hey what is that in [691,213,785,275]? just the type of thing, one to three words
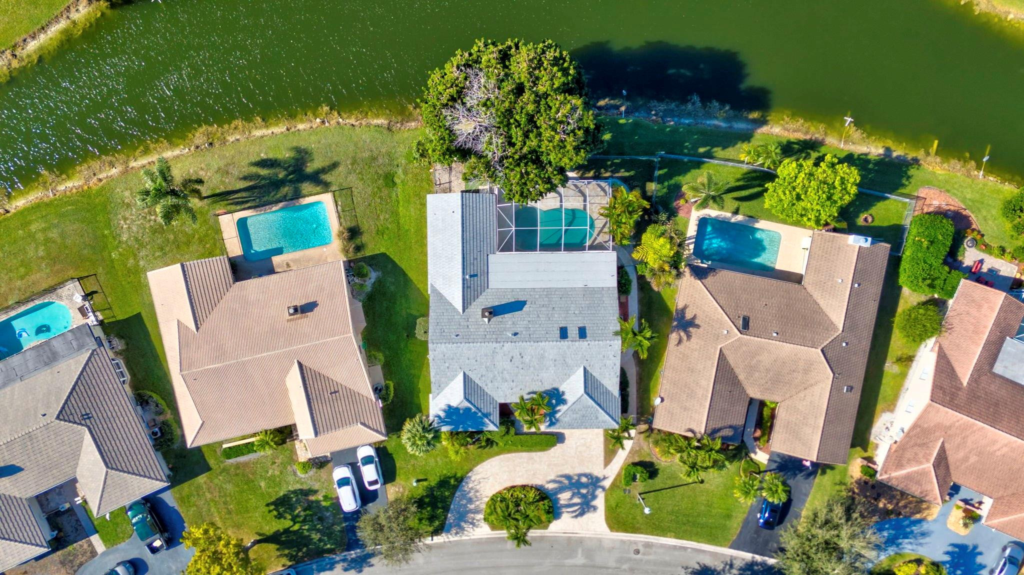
swimming pool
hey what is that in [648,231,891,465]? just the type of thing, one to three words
house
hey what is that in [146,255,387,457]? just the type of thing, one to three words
house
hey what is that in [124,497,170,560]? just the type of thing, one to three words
truck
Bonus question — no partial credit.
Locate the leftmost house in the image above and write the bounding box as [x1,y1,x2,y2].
[0,322,176,572]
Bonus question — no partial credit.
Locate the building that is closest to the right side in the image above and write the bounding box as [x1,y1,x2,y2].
[870,279,1024,541]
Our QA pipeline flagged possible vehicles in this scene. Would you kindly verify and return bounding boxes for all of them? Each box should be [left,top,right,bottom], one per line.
[124,497,170,560]
[354,443,384,494]
[756,479,789,532]
[331,462,362,515]
[99,561,140,575]
[989,539,1024,575]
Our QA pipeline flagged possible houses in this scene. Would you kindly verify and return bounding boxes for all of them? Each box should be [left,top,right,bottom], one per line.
[870,279,1024,541]
[0,322,176,572]
[426,192,622,432]
[648,231,891,465]
[146,255,387,457]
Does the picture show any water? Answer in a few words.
Yes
